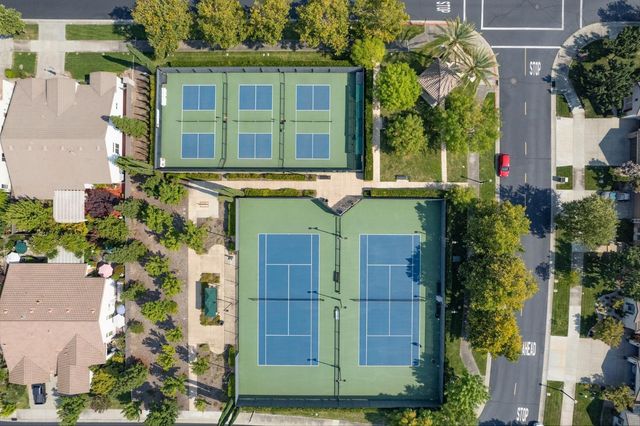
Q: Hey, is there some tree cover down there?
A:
Yes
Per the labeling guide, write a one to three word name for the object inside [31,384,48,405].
car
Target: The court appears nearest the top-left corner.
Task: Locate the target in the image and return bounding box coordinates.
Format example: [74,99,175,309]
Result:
[161,72,228,170]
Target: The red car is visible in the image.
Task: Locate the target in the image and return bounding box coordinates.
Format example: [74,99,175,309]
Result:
[496,154,509,177]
